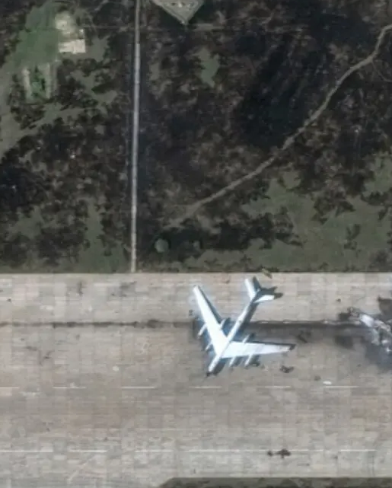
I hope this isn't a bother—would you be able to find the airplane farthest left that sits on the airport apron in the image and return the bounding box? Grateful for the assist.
[194,280,295,380]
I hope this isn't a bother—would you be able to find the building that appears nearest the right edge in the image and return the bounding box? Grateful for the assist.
[156,0,203,24]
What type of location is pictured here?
airport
